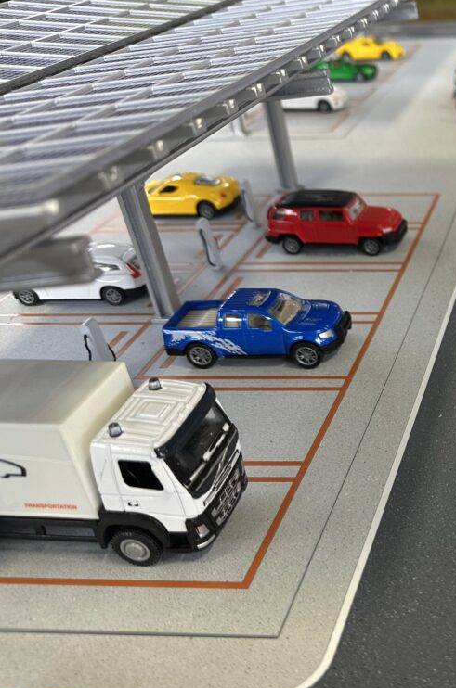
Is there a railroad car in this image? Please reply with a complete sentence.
No, I can't see a single railroad car in this photo.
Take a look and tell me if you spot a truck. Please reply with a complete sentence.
Yes, the photo shows a truck.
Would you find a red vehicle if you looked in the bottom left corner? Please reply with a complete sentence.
No, looking in the bottom left corner, there is no red vehicle.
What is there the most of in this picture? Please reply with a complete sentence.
Most of the picture is covered by paved ground.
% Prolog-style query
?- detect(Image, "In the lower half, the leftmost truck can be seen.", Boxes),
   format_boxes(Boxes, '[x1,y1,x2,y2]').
[0,363,252,567]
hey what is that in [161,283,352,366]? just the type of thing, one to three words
truck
